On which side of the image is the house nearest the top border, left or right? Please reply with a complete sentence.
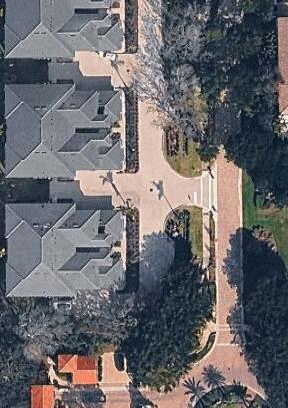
It is on the left.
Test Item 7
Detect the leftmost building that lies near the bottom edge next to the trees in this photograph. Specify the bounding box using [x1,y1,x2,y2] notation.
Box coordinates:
[30,385,54,408]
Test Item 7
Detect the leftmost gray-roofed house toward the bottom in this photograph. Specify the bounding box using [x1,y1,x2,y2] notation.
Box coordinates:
[4,203,123,298]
